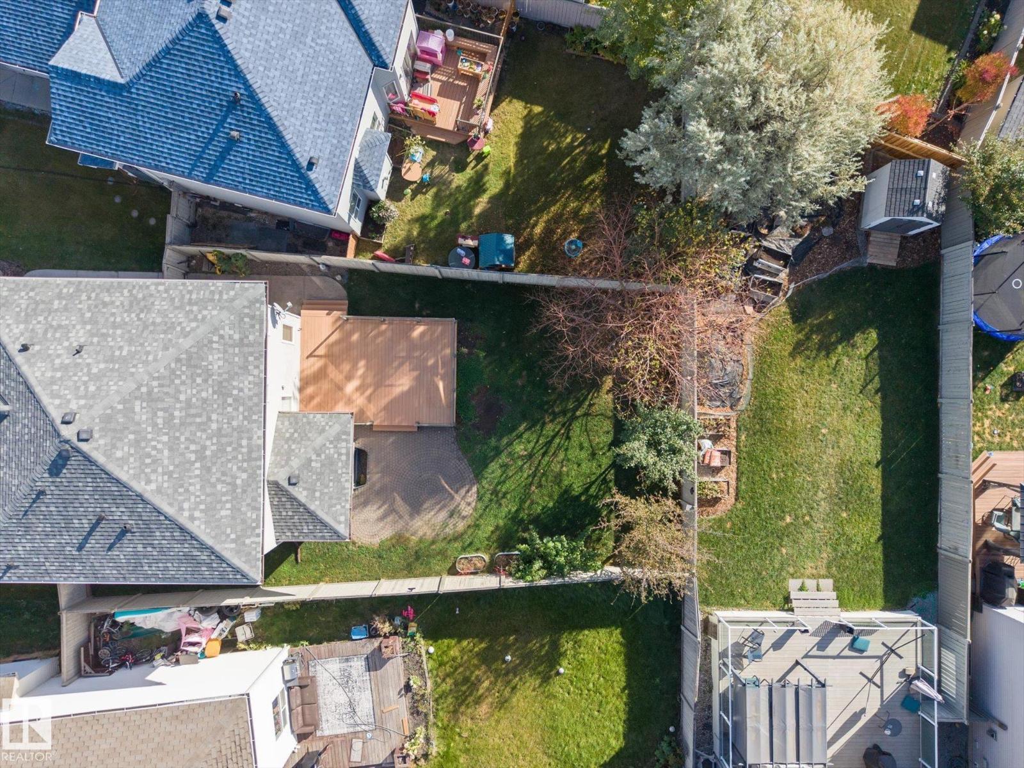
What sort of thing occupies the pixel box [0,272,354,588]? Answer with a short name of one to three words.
house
